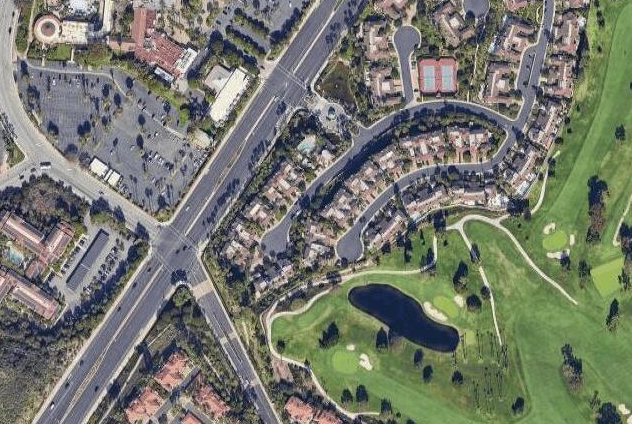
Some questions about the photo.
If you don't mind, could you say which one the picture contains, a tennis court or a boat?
tennis court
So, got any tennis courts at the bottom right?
No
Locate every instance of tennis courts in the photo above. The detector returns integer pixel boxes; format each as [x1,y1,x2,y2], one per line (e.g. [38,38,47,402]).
[418,58,438,93]
[438,58,457,93]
